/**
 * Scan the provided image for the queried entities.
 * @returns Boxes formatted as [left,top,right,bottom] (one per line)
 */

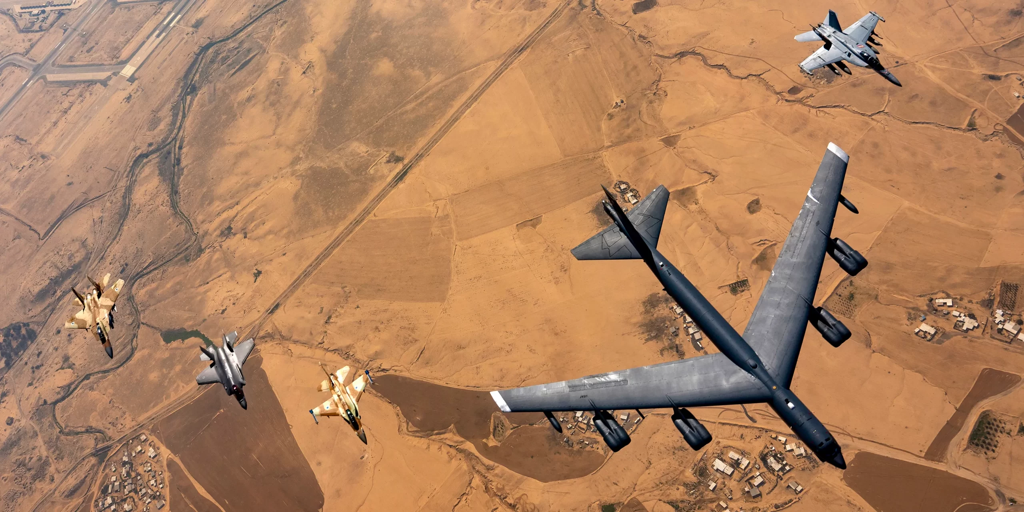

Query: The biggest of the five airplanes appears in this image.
[489,141,868,470]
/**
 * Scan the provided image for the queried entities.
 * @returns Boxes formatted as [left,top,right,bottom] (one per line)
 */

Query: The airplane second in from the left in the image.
[196,331,255,410]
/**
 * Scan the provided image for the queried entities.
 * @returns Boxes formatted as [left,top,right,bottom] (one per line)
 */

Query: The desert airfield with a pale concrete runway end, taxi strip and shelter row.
[0,0,200,159]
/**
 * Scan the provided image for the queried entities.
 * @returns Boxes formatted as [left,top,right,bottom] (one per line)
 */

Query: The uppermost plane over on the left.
[65,273,124,358]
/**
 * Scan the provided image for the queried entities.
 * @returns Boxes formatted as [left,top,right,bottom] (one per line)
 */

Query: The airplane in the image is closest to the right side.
[794,9,902,86]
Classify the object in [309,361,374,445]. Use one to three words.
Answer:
airplane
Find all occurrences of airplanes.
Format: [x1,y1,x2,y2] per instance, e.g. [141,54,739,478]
[65,273,124,358]
[309,361,374,445]
[489,141,868,470]
[794,9,902,86]
[196,331,255,410]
